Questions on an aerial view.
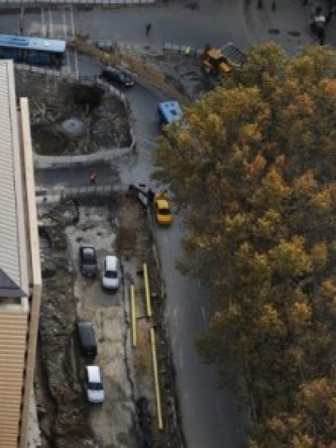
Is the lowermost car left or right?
left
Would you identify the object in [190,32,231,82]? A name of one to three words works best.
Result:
work vehicle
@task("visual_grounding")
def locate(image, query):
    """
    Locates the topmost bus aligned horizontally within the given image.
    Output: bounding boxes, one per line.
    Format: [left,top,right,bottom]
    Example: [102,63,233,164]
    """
[0,35,66,67]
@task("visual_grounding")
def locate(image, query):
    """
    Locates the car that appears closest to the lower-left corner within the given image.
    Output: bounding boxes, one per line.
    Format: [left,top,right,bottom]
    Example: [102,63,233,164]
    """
[86,369,106,400]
